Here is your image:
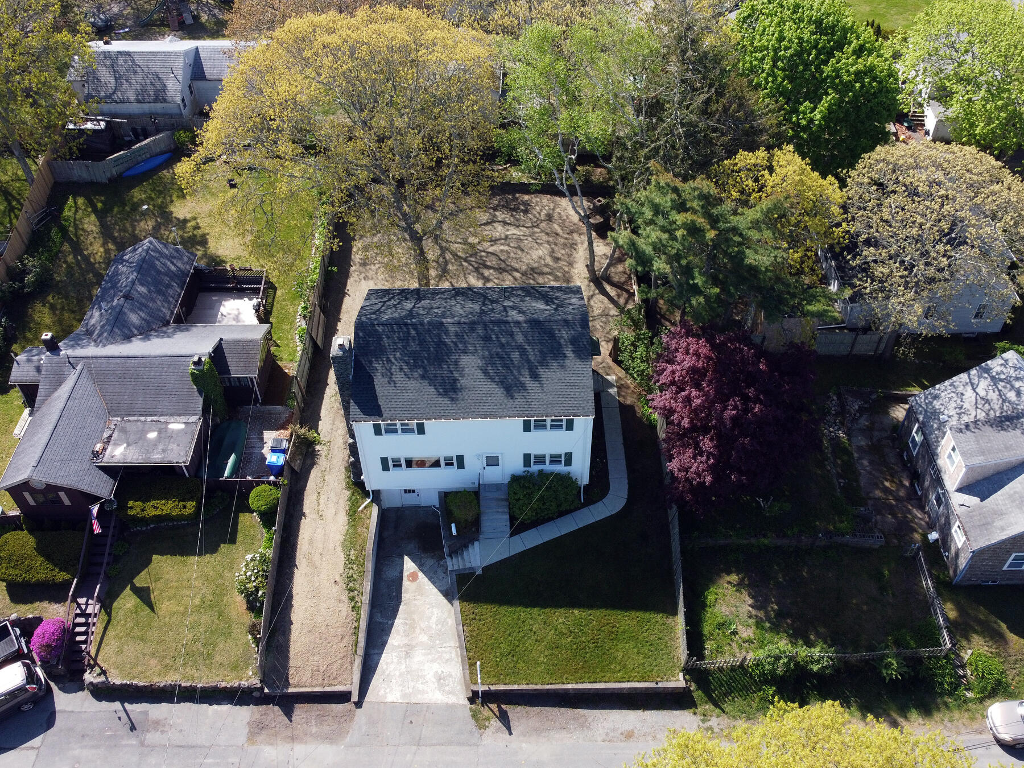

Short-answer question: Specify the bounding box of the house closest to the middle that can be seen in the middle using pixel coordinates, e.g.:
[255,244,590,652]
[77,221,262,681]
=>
[327,288,597,511]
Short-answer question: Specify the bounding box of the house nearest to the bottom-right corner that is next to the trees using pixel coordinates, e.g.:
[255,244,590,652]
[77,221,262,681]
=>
[906,366,1024,589]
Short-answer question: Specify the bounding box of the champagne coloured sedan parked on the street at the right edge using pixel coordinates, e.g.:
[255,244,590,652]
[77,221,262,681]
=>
[984,704,1024,752]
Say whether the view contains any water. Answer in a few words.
No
